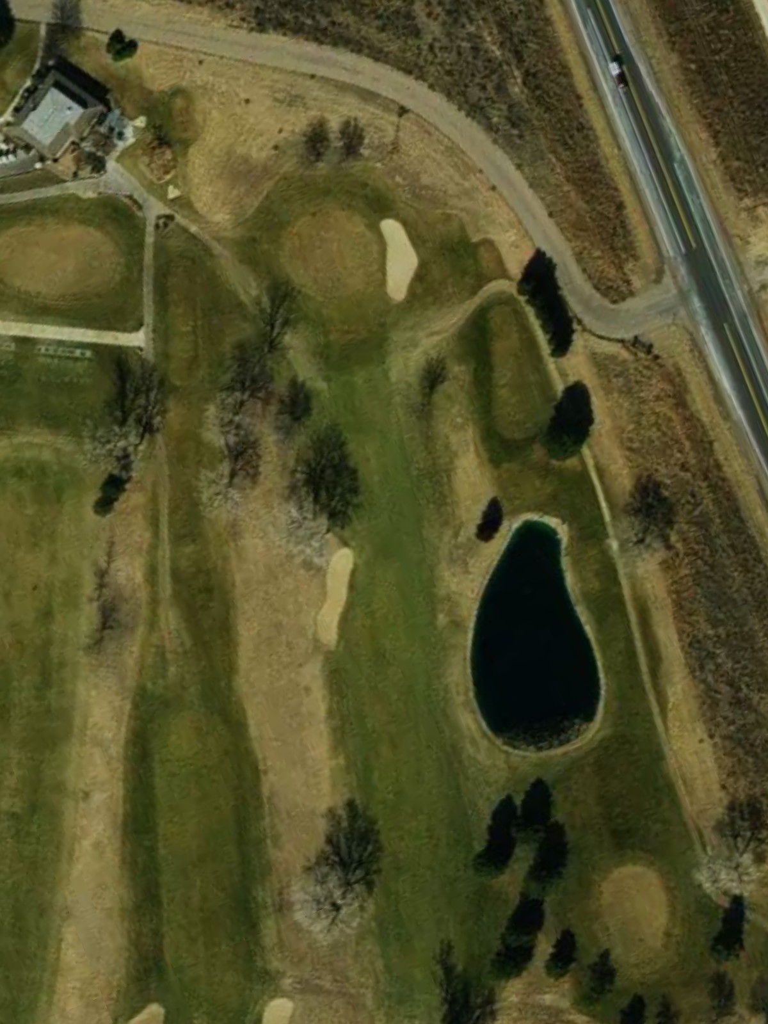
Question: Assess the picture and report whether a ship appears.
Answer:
No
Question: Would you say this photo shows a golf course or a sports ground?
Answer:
golf course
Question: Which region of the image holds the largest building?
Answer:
top left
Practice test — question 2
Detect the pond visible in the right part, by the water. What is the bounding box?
[471,518,601,748]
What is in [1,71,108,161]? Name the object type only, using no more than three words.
building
